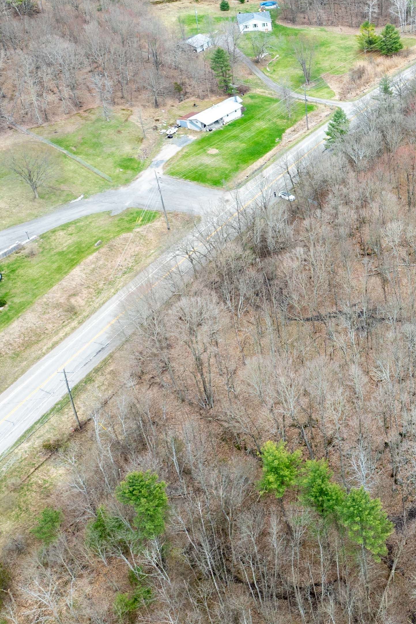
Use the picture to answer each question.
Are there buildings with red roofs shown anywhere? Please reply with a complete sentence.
No, there is no building with a red roof in the image.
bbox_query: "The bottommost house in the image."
[178,100,247,132]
